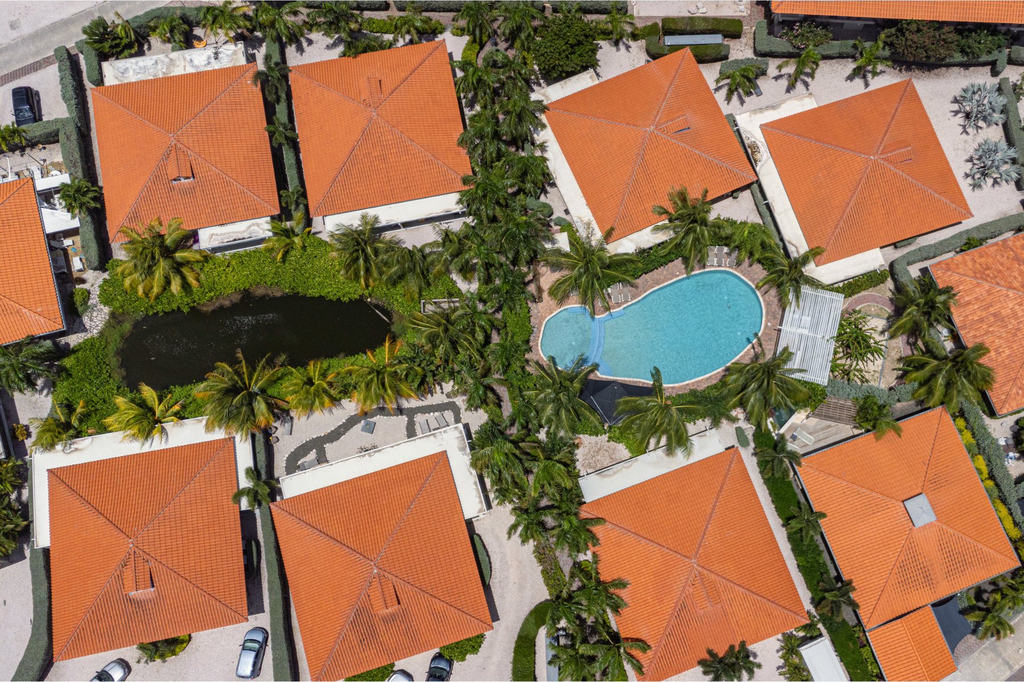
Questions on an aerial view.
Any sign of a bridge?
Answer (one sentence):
No, no bridge is visible in the view.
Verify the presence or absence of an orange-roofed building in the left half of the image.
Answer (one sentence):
Yes, looking in the left half of the image, one can make out an orange-roofed building.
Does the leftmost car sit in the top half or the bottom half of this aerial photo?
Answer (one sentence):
The leftmost car is in the top half of the image.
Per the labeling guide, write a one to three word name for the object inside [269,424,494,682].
house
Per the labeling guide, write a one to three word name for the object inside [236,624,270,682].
car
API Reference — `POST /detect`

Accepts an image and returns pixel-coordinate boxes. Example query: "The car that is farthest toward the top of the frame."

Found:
[10,84,40,127]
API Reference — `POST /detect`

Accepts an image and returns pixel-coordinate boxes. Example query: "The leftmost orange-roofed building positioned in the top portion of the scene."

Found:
[0,175,71,343]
